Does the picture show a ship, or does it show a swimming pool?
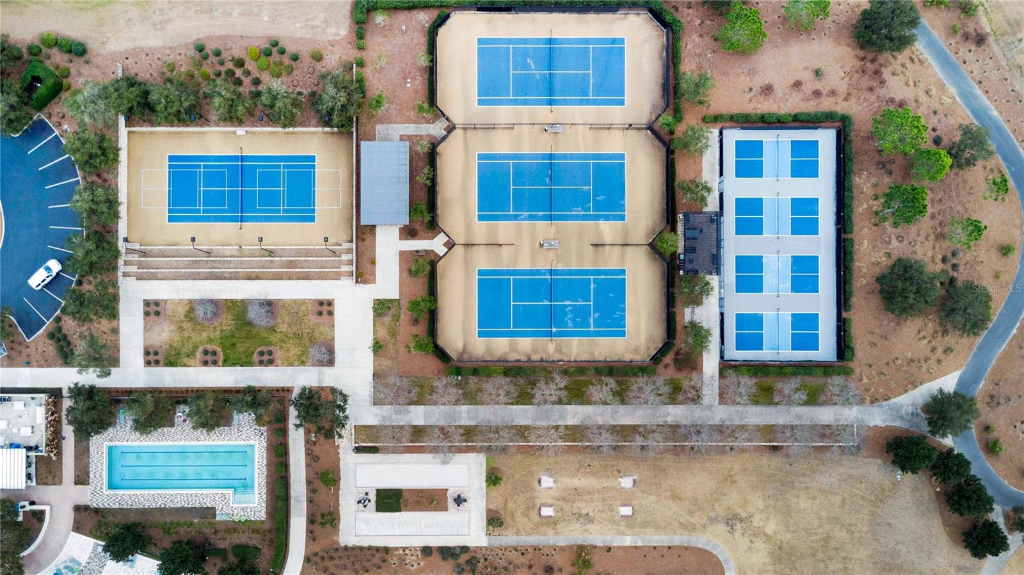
swimming pool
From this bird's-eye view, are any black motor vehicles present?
No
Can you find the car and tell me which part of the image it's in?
left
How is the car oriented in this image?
diagonally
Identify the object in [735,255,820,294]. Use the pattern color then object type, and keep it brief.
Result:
blue sports court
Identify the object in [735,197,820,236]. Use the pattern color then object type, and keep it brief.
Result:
blue sports court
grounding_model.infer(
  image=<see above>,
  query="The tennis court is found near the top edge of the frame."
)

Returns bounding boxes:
[437,13,667,126]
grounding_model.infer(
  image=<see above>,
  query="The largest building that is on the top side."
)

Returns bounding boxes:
[361,140,409,226]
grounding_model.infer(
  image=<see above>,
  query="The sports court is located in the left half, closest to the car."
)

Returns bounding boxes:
[132,133,353,246]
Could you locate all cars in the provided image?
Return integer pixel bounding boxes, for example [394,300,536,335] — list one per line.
[27,260,60,290]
